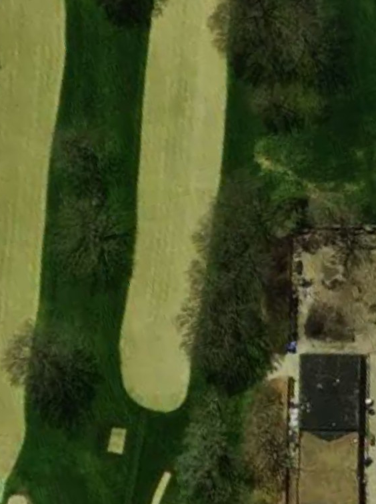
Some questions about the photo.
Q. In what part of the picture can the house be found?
bottom right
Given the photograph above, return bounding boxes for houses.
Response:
[299,354,359,504]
